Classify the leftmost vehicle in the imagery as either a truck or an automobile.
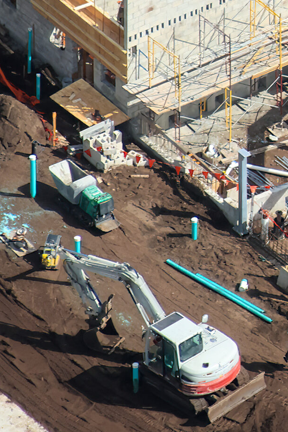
truck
